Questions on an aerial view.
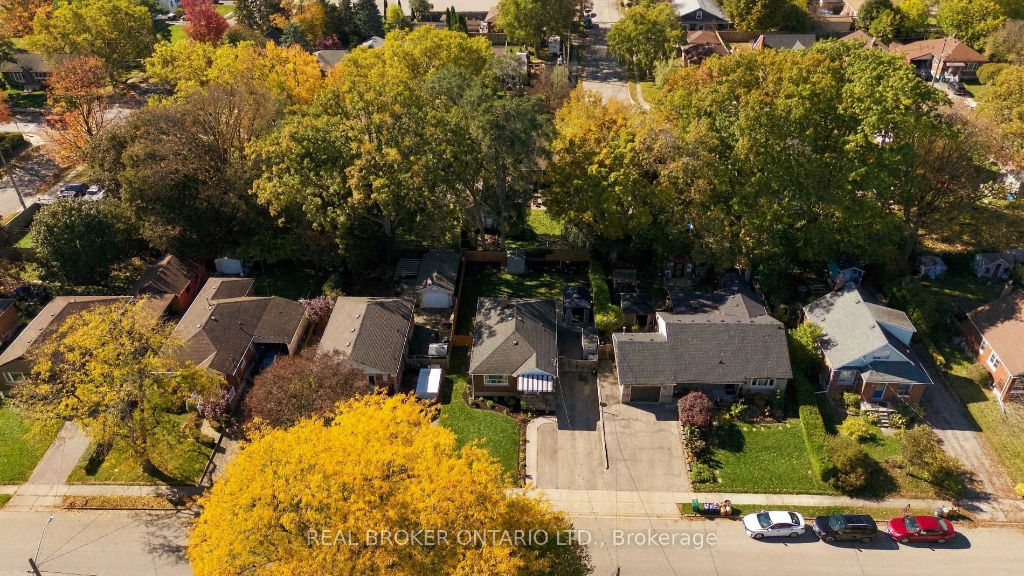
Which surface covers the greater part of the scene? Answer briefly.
trees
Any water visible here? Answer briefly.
No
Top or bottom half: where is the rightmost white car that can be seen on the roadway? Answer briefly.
bottom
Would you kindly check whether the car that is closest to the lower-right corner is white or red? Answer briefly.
red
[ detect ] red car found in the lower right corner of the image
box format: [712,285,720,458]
[887,508,956,546]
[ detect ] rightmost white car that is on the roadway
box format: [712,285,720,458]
[745,511,807,541]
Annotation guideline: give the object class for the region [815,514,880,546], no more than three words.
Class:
car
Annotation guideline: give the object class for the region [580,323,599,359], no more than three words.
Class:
shed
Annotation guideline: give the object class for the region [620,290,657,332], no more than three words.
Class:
building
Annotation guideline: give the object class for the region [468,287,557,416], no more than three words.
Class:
house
